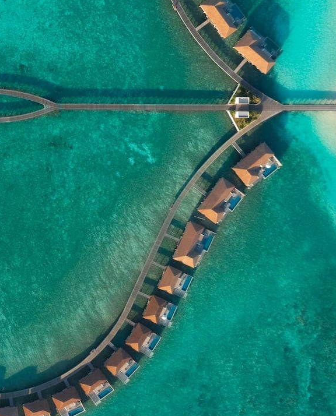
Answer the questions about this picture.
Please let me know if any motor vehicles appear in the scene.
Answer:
No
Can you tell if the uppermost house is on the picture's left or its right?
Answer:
right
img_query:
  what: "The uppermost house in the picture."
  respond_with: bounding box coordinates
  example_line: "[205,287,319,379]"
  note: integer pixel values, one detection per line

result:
[198,0,249,39]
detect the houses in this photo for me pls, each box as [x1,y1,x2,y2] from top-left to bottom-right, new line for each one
[229,142,282,190]
[196,178,247,227]
[104,346,142,384]
[23,398,51,416]
[79,368,115,406]
[141,294,179,328]
[171,221,219,270]
[125,323,162,358]
[0,407,18,416]
[231,26,285,74]
[51,385,87,416]
[198,0,249,39]
[157,266,194,300]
